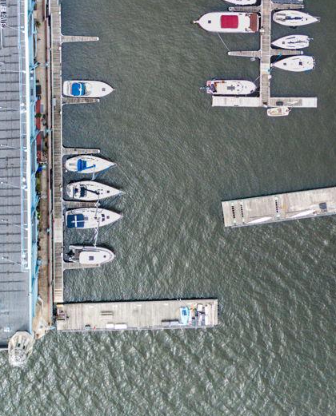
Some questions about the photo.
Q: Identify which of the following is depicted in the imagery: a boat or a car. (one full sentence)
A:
The one in the frame is a boat.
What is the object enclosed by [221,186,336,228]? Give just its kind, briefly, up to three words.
pier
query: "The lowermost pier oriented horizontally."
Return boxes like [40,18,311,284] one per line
[56,297,218,332]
